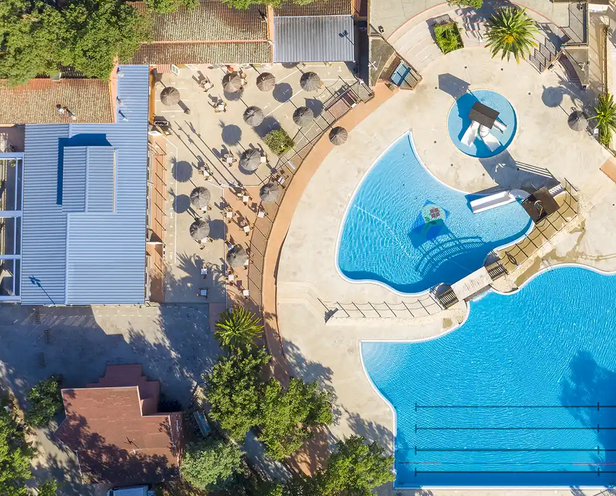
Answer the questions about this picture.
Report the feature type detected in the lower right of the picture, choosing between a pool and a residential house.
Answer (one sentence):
There is a pool in the lower right of the picture.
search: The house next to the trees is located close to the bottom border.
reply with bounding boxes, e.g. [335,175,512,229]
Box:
[53,383,196,485]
